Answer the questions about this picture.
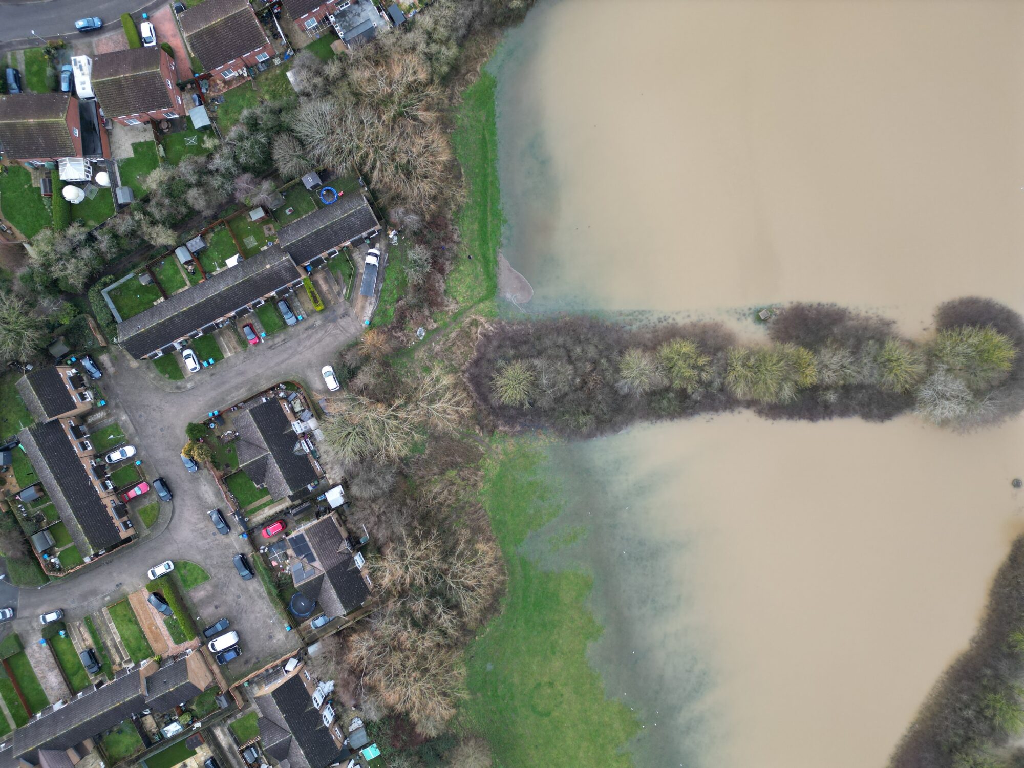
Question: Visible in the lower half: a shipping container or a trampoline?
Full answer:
There is a trampoline in the lower half.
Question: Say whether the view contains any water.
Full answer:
Yes, there is water in the image.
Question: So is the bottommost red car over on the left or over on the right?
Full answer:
The bottommost red car appears in the left half of the scene.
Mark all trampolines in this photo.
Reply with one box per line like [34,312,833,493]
[287,591,317,618]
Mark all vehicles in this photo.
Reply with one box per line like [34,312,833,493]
[40,607,66,624]
[322,365,341,392]
[147,592,174,618]
[231,552,255,582]
[148,559,176,580]
[203,616,231,640]
[105,444,138,465]
[121,482,151,504]
[0,606,16,619]
[204,754,221,768]
[81,356,103,381]
[60,65,75,93]
[276,298,298,326]
[182,347,202,374]
[207,628,241,654]
[208,508,231,536]
[178,452,199,474]
[79,649,102,674]
[72,56,100,103]
[242,322,261,346]
[141,21,158,47]
[5,67,24,95]
[310,614,336,631]
[261,518,288,539]
[360,249,380,297]
[152,477,174,503]
[75,16,104,32]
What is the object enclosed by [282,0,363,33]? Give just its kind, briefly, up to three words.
house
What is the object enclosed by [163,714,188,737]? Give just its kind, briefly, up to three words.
greenhouse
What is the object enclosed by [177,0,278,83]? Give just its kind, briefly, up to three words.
house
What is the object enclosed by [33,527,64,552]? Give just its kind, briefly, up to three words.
shed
